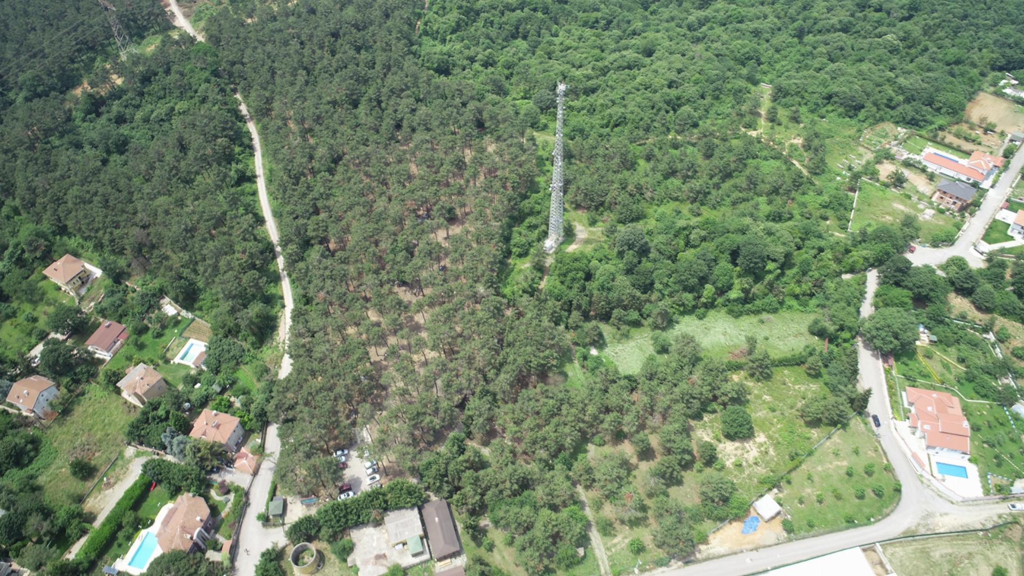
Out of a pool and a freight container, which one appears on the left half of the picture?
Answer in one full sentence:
Looking on the left half of the picture, you will find a pool.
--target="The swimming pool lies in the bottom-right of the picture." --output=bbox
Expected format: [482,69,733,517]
[933,459,971,480]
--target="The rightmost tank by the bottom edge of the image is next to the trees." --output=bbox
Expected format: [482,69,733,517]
[289,541,322,575]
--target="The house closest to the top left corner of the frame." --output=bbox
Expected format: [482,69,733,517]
[42,256,93,294]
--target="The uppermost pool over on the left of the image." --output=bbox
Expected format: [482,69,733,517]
[178,341,206,364]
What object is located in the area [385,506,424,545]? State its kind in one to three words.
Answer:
shed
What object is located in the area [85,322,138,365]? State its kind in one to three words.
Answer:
house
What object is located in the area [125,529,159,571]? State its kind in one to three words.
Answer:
swimming pool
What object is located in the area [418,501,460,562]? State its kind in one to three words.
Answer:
building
